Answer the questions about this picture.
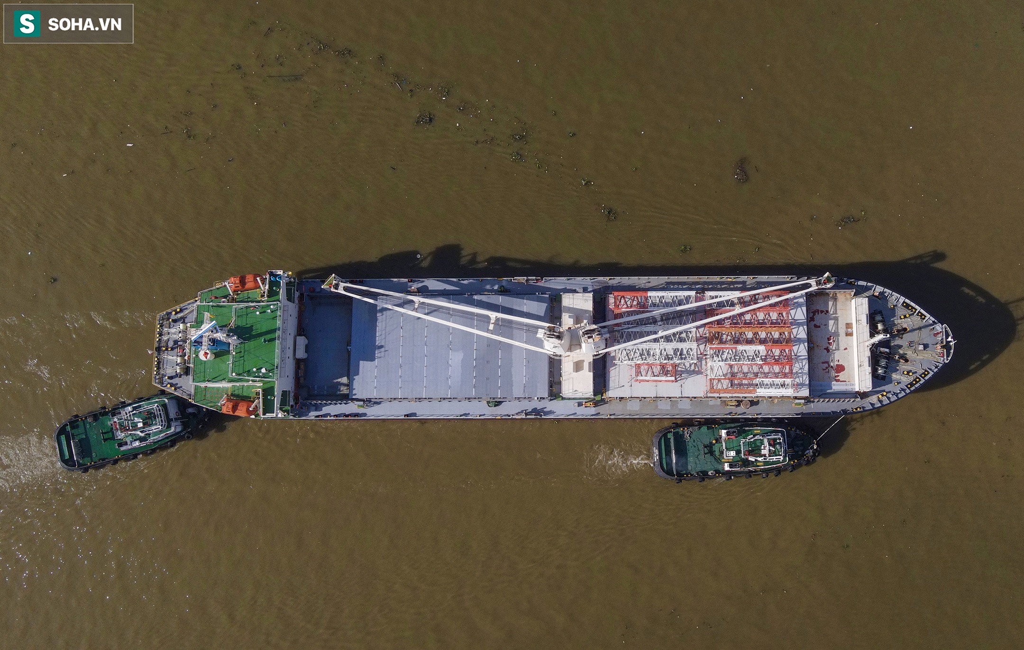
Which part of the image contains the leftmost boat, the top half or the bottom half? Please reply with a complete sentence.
It is in the bottom half that the leftmost boat appears.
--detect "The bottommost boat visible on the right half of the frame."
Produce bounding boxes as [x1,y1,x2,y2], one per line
[650,419,826,483]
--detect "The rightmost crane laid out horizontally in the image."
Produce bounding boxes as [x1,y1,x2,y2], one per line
[575,270,837,360]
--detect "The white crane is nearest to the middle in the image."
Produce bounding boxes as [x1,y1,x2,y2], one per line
[324,272,578,360]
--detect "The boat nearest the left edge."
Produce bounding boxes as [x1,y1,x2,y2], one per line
[52,392,216,470]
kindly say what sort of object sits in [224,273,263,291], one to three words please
boat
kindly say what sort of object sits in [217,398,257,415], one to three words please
boat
